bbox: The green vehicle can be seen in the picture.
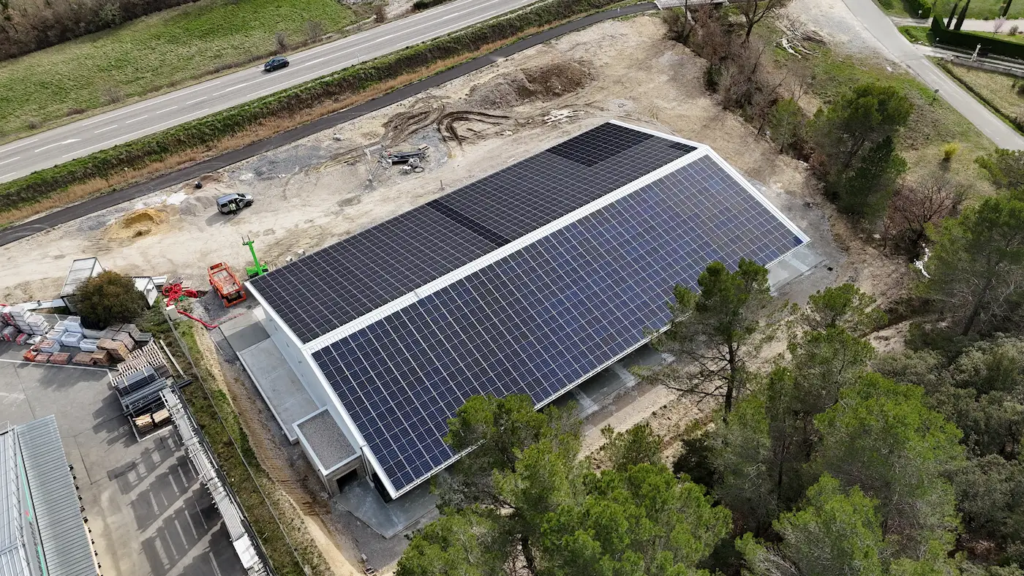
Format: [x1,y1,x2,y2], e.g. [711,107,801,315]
[239,237,273,278]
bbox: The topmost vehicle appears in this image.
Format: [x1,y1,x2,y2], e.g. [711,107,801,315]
[262,57,290,73]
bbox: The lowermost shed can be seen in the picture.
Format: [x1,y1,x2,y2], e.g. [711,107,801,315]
[0,416,114,576]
